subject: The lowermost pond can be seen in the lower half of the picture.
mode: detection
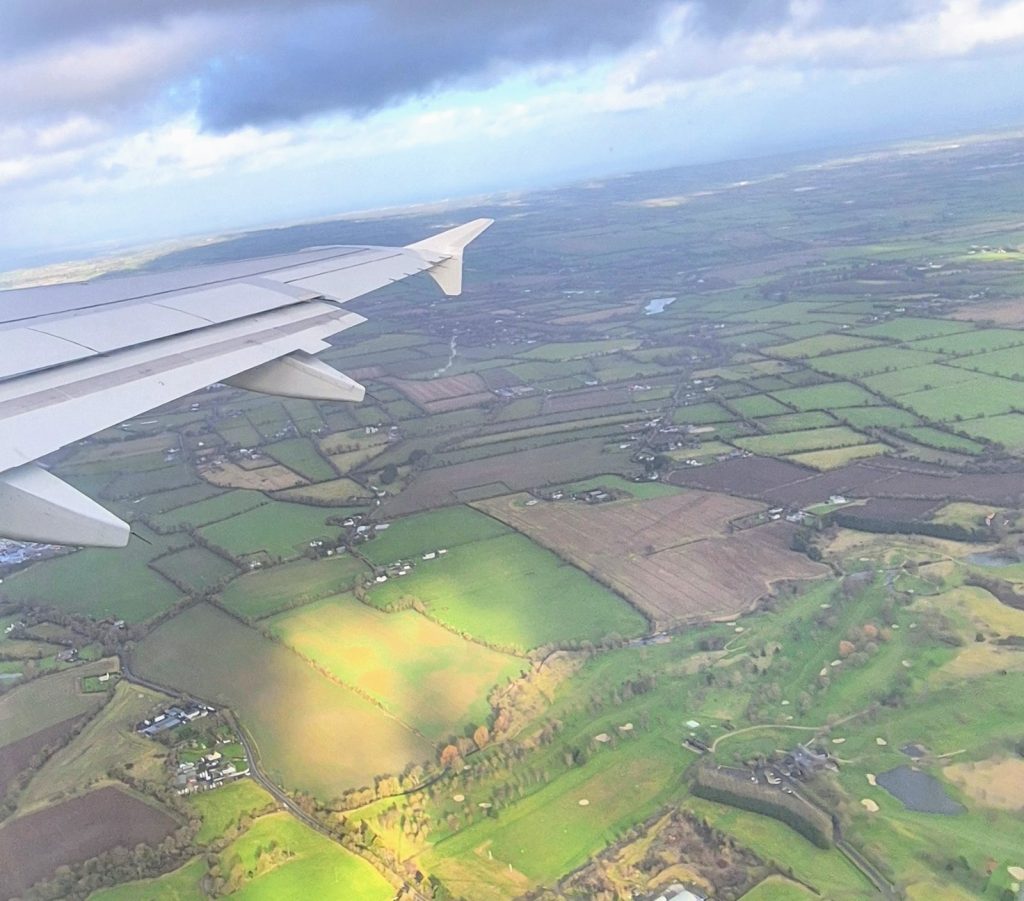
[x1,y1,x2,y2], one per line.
[875,765,968,814]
